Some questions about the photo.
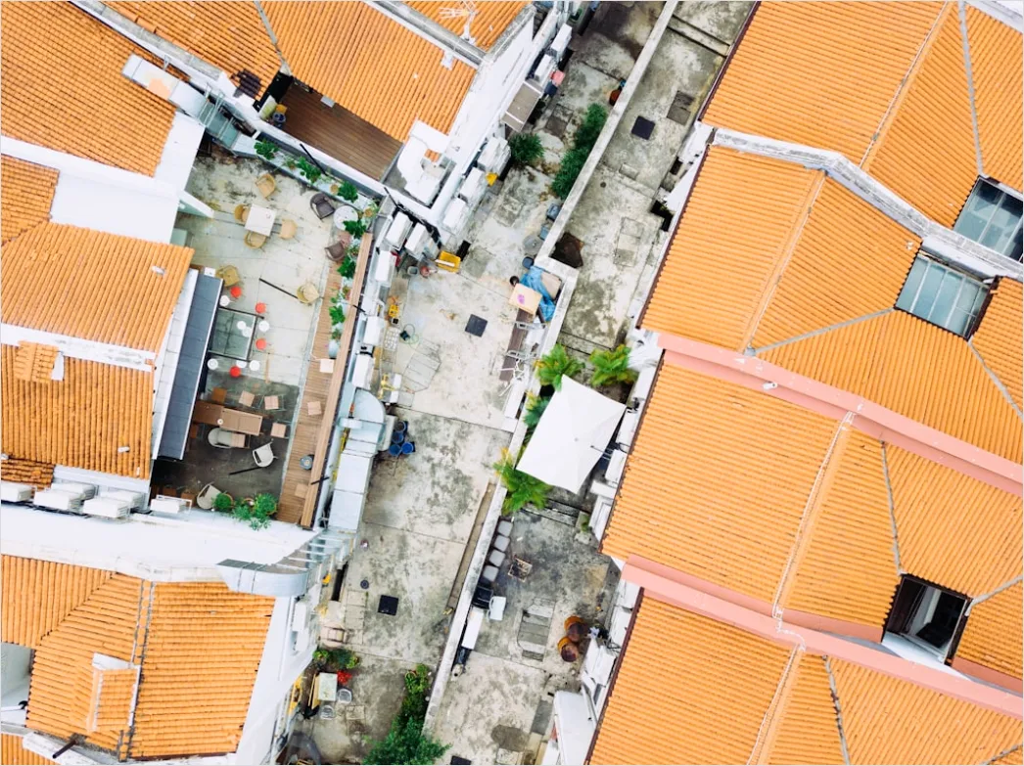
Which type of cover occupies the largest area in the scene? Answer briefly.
buildings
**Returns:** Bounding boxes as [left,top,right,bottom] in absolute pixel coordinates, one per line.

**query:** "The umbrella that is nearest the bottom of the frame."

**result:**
[516,375,627,493]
